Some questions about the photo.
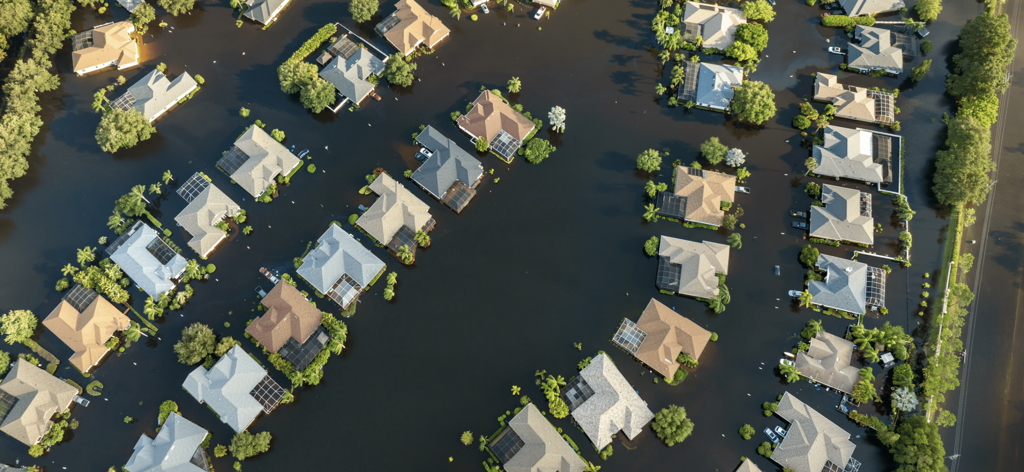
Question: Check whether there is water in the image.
Yes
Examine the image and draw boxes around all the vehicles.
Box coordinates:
[257,265,273,281]
[772,424,785,437]
[779,359,796,365]
[253,284,268,298]
[481,4,489,15]
[818,11,832,18]
[763,428,780,445]
[790,221,809,230]
[533,5,547,20]
[297,147,310,159]
[788,210,808,219]
[357,203,369,214]
[787,290,804,297]
[74,396,91,409]
[735,185,753,194]
[413,152,429,164]
[370,92,382,102]
[420,147,434,159]
[270,274,280,284]
[827,47,847,57]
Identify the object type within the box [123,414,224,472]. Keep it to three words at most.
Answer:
house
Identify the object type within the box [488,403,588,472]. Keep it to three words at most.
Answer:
house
